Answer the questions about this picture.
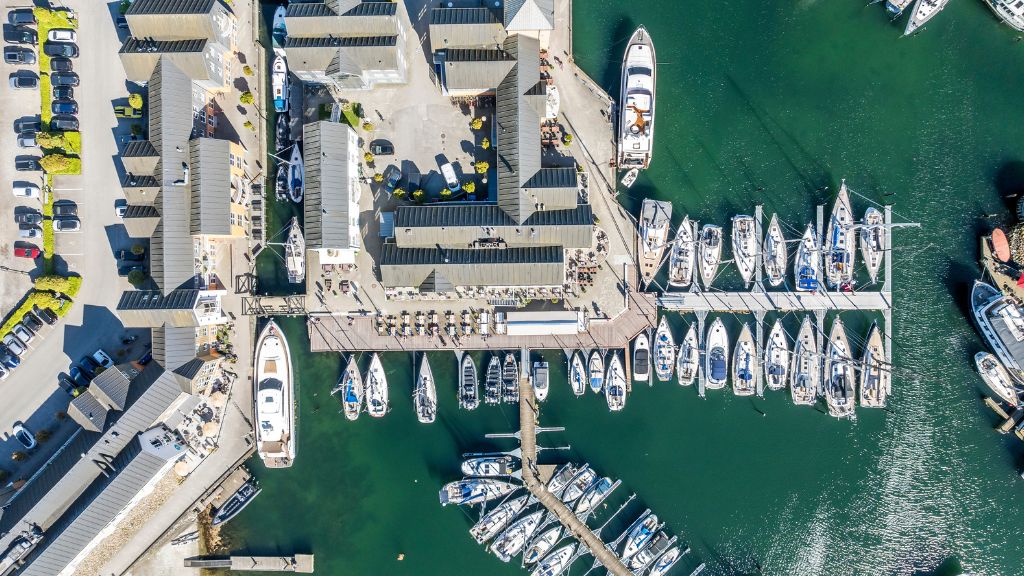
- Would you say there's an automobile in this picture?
Yes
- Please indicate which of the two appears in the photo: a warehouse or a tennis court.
warehouse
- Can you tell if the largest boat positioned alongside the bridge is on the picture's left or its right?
left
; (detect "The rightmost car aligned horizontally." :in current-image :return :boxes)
[368,141,397,155]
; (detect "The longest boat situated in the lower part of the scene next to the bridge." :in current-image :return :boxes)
[253,320,297,470]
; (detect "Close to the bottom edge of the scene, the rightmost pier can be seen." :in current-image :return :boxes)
[461,350,705,576]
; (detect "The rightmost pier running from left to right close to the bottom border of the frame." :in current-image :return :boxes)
[182,553,315,574]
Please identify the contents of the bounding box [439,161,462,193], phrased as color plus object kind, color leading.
white vehicle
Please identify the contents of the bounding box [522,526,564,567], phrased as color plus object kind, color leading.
white boat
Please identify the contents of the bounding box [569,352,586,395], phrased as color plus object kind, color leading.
white boat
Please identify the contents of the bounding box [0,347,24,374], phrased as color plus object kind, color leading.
blue car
